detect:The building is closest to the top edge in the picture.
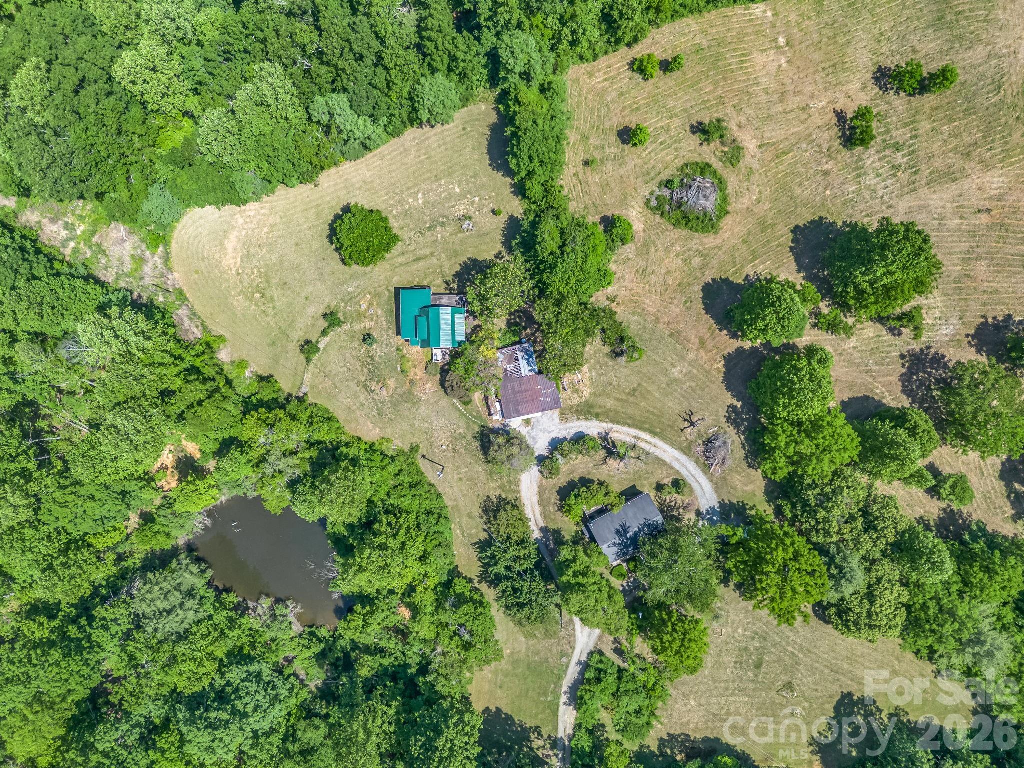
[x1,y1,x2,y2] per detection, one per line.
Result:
[399,289,467,366]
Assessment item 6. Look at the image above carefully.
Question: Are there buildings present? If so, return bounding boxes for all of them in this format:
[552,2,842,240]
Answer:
[490,337,563,423]
[399,289,467,366]
[586,492,668,565]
